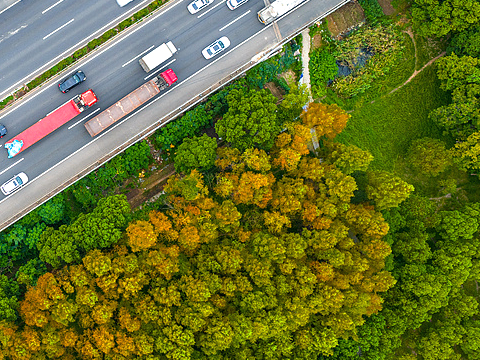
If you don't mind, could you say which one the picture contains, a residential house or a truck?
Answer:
truck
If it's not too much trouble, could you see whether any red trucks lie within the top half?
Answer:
Yes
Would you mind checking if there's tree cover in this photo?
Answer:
Yes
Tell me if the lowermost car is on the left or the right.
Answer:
left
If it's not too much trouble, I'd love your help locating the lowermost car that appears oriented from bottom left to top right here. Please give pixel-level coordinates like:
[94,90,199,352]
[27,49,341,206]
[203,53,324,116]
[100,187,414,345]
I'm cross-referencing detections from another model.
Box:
[0,170,29,194]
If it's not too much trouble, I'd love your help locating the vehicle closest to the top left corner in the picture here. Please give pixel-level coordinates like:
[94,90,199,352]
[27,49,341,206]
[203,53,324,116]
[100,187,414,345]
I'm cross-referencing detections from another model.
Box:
[58,70,86,93]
